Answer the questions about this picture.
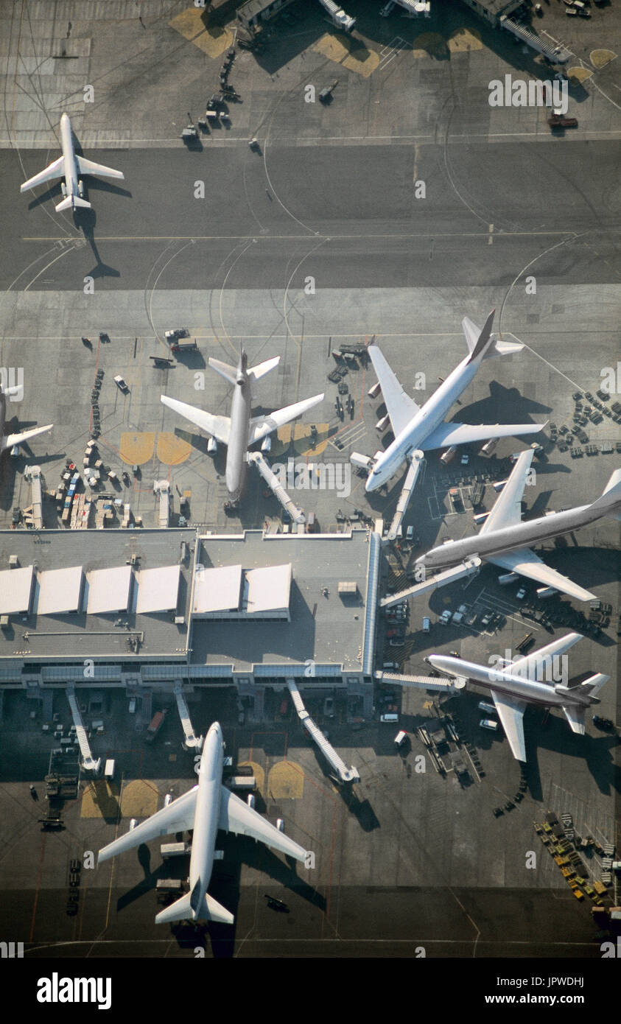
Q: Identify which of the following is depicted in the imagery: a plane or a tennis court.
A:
plane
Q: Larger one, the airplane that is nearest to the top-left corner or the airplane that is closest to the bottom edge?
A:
the airplane that is closest to the bottom edge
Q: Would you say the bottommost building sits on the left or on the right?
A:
left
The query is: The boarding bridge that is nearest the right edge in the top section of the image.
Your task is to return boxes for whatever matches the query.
[498,15,575,68]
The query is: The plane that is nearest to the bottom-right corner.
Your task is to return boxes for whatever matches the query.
[427,629,612,762]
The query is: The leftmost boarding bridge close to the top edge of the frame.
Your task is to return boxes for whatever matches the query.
[317,0,354,32]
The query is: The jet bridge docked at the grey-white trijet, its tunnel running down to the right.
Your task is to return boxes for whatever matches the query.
[244,449,307,529]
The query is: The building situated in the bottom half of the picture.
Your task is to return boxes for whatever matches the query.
[0,520,386,732]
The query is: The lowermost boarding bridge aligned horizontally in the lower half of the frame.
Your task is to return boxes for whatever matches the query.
[381,670,467,700]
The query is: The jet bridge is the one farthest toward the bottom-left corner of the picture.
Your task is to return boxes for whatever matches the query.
[65,687,104,775]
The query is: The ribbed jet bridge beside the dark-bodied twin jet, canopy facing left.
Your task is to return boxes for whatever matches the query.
[22,465,48,529]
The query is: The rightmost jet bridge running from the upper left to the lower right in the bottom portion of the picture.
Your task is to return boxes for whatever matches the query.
[288,684,362,785]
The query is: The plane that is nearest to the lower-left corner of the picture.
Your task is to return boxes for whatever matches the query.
[98,720,308,920]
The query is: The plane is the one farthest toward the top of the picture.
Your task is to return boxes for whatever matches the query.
[20,115,123,216]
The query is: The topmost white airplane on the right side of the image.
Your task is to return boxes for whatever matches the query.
[364,311,546,496]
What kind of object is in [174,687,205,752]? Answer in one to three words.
jet bridge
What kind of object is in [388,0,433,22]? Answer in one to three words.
jet bridge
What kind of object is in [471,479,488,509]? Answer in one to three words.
work vehicle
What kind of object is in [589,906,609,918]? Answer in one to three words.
vehicle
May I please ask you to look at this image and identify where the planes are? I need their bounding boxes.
[427,629,612,762]
[20,115,123,216]
[364,311,546,496]
[411,446,621,598]
[98,720,308,920]
[162,329,320,503]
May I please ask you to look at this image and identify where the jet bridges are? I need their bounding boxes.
[288,684,362,785]
[381,670,467,700]
[498,15,575,68]
[376,550,481,619]
[22,465,48,529]
[244,449,307,529]
[317,0,354,32]
[386,449,424,552]
[388,0,433,22]
[149,477,175,527]
[174,687,205,752]
[65,687,104,775]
